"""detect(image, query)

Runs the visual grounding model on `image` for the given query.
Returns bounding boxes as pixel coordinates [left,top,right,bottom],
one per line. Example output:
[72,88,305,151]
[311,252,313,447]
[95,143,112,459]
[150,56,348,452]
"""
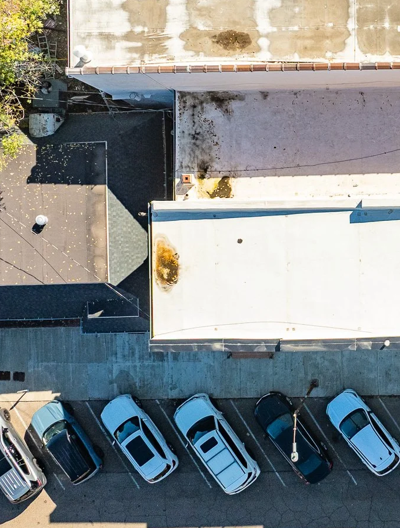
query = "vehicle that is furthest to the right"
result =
[326,385,400,480]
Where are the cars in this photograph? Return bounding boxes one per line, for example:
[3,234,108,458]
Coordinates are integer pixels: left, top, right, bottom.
[174,392,262,499]
[253,387,336,489]
[28,395,107,490]
[102,394,181,487]
[0,405,49,504]
[326,385,400,480]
